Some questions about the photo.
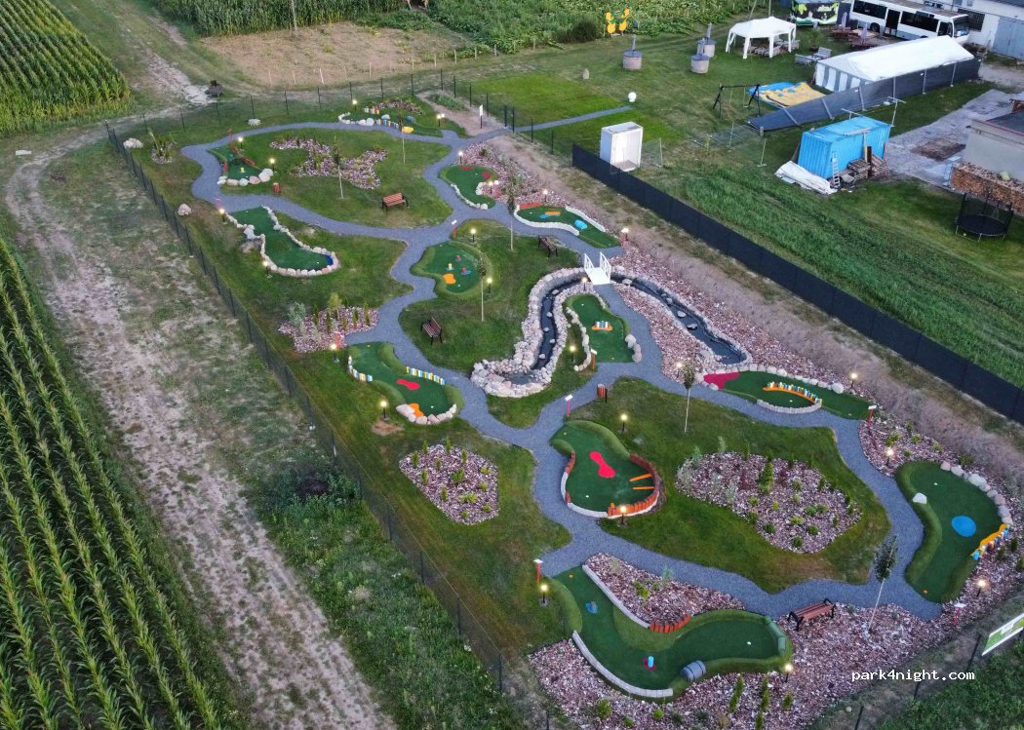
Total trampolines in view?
1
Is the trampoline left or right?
right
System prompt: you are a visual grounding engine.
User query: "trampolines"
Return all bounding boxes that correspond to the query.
[950,190,1021,247]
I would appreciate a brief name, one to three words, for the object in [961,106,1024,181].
shed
